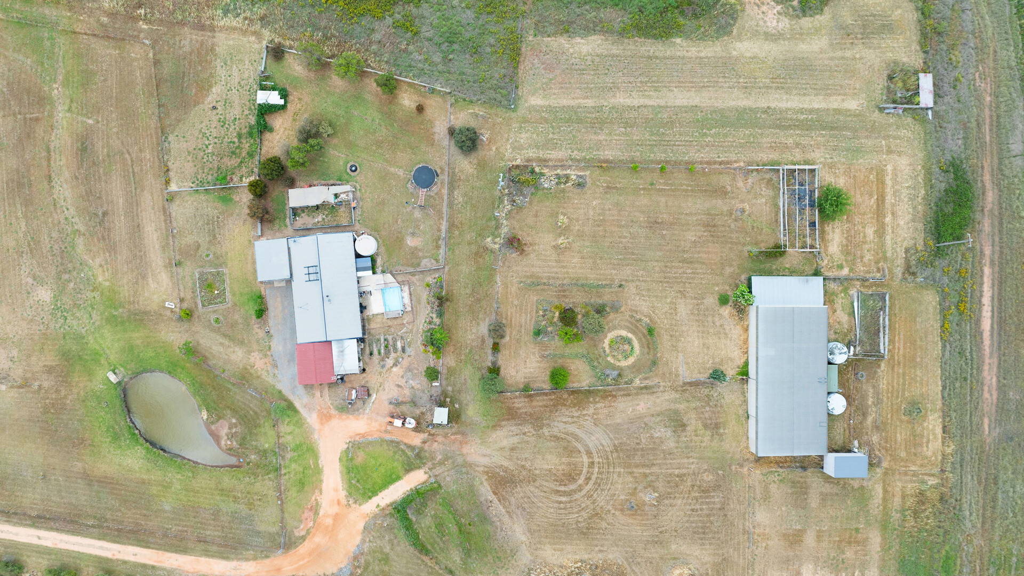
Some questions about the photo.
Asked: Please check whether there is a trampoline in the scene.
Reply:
Yes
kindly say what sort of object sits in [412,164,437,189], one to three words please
trampoline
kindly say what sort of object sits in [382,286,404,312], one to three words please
swimming pool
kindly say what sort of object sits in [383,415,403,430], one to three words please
work vehicle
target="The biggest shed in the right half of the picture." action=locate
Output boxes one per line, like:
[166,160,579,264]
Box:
[748,305,828,457]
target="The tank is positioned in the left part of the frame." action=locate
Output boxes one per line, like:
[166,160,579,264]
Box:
[353,233,380,257]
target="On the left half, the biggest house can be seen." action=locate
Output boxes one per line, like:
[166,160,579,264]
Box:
[253,232,363,344]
